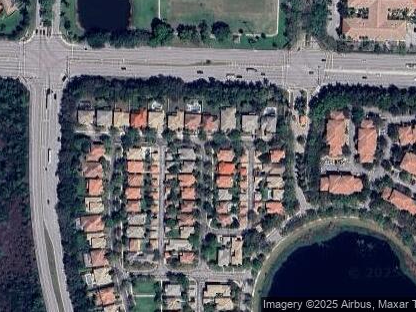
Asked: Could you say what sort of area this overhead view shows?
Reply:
residential area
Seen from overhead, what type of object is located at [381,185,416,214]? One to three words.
building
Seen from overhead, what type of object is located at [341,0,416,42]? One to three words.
building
